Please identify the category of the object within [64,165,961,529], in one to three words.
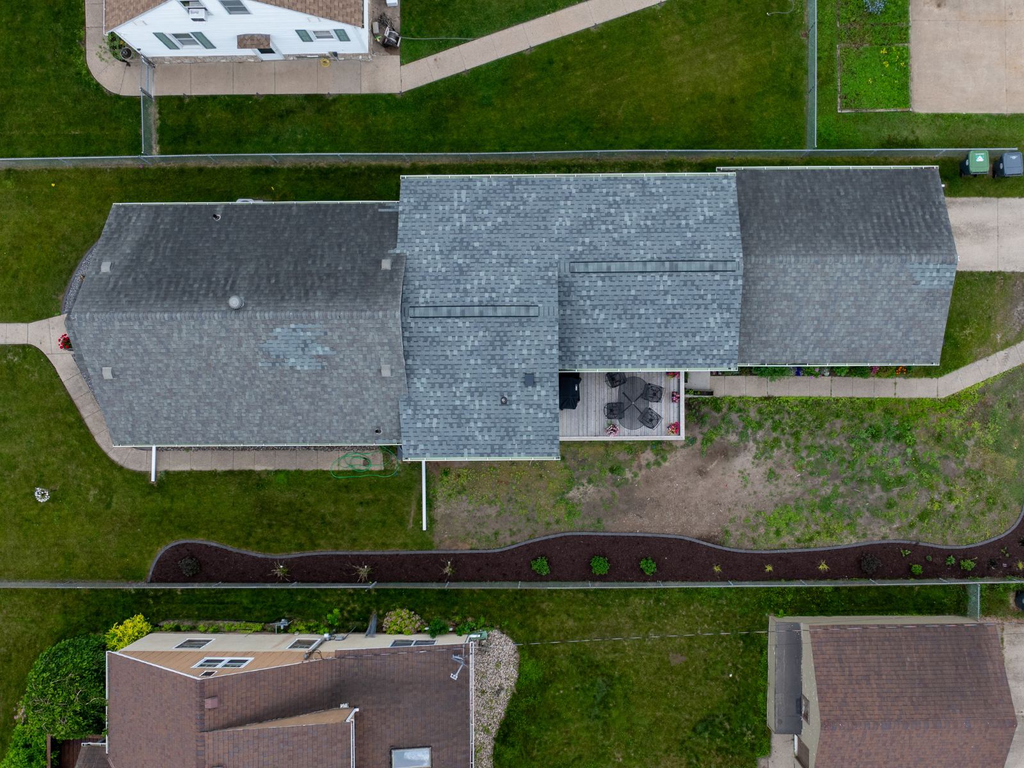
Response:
house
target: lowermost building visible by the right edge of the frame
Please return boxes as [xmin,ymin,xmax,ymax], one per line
[786,614,1017,768]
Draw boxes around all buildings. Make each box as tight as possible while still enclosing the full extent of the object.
[76,620,477,768]
[64,165,961,529]
[786,614,1017,768]
[103,0,374,64]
